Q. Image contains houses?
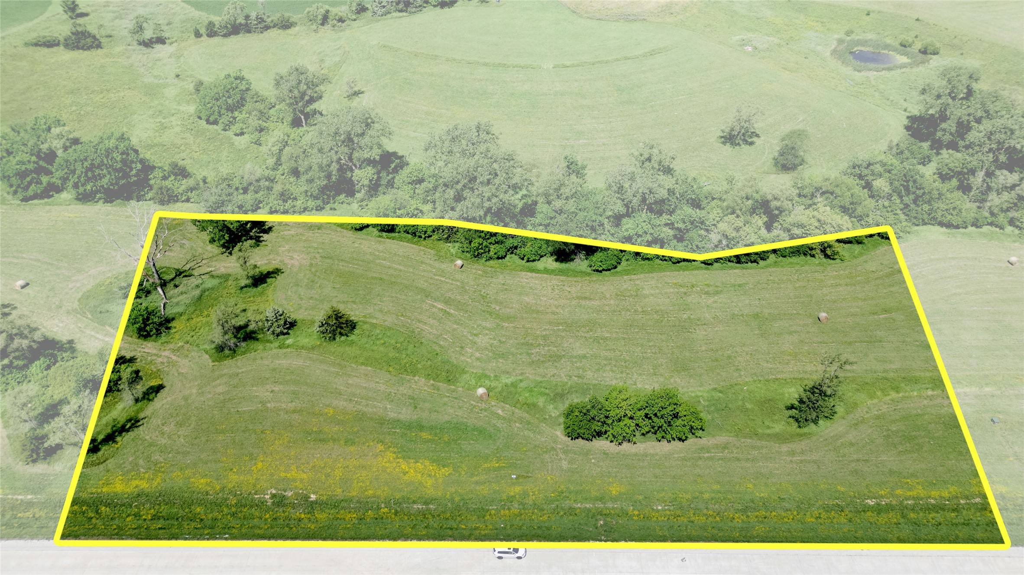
No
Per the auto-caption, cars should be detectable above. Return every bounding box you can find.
[492,541,527,559]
